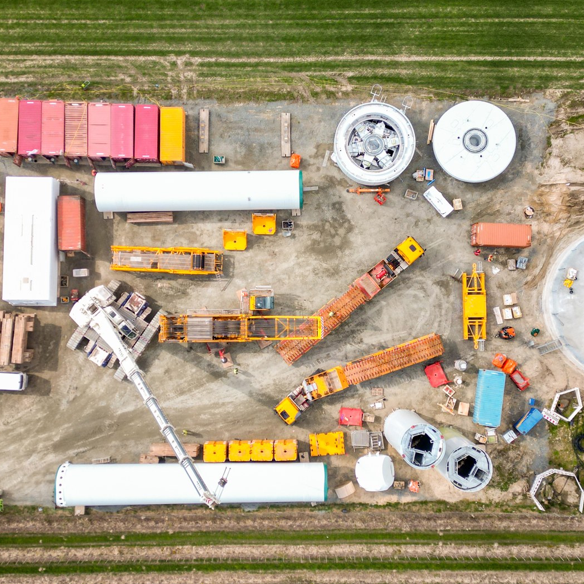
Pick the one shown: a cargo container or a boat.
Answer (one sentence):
The one in the frame is a cargo container.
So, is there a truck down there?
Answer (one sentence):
Yes, the frame does contain a truck.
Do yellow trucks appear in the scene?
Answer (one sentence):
Yes, the photo shows a yellow truck.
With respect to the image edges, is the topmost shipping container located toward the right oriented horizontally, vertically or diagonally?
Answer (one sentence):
The topmost shipping container located toward the right is oriented horizontally.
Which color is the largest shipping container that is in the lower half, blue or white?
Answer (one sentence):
The largest shipping container that is in the lower half is blue.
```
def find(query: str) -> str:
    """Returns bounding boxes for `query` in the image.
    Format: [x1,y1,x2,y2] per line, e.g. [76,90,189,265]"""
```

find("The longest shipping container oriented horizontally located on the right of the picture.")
[471,223,532,249]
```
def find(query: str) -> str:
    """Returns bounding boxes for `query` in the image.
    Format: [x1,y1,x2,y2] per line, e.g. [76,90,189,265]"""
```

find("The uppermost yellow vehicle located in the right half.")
[380,233,426,287]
